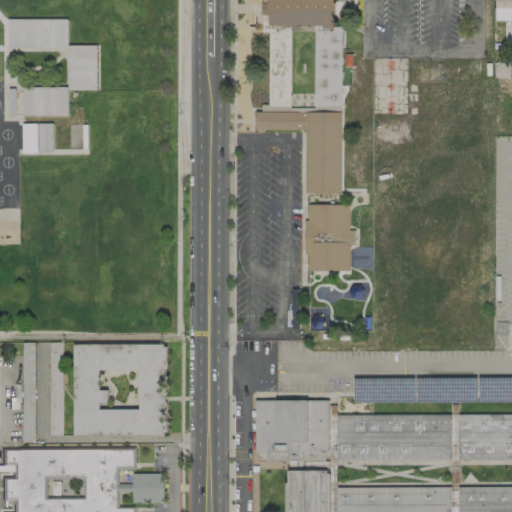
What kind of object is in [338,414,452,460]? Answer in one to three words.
building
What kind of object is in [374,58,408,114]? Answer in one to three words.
basketball court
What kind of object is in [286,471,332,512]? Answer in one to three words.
building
